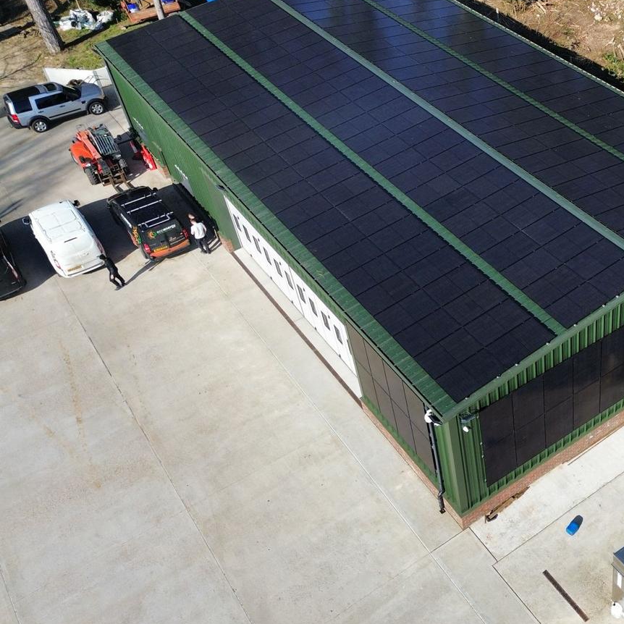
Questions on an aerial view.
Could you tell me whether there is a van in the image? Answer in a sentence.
Yes, there's a van here.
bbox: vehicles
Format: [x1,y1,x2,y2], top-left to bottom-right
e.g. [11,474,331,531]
[59,118,132,200]
[23,203,102,275]
[0,79,112,132]
[0,233,25,289]
[107,189,189,262]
